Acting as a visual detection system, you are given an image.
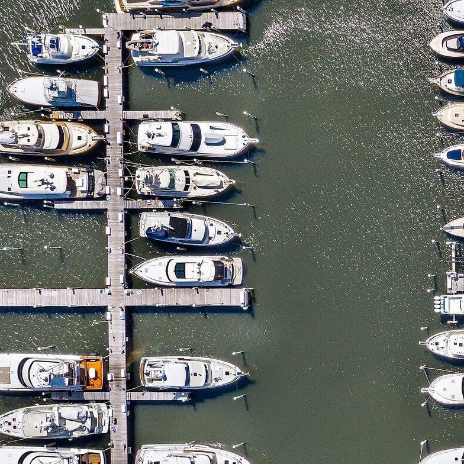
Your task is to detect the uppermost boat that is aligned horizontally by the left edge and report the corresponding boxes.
[15,31,103,66]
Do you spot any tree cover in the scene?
No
